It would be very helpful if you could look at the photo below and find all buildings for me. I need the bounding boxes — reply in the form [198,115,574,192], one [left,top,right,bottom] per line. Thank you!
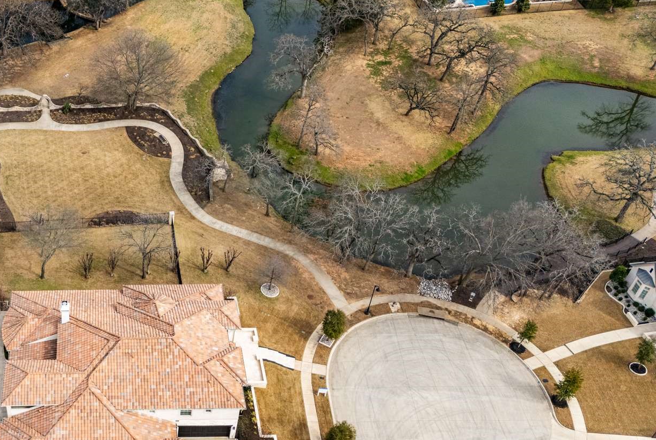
[624,236,656,308]
[0,284,250,440]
